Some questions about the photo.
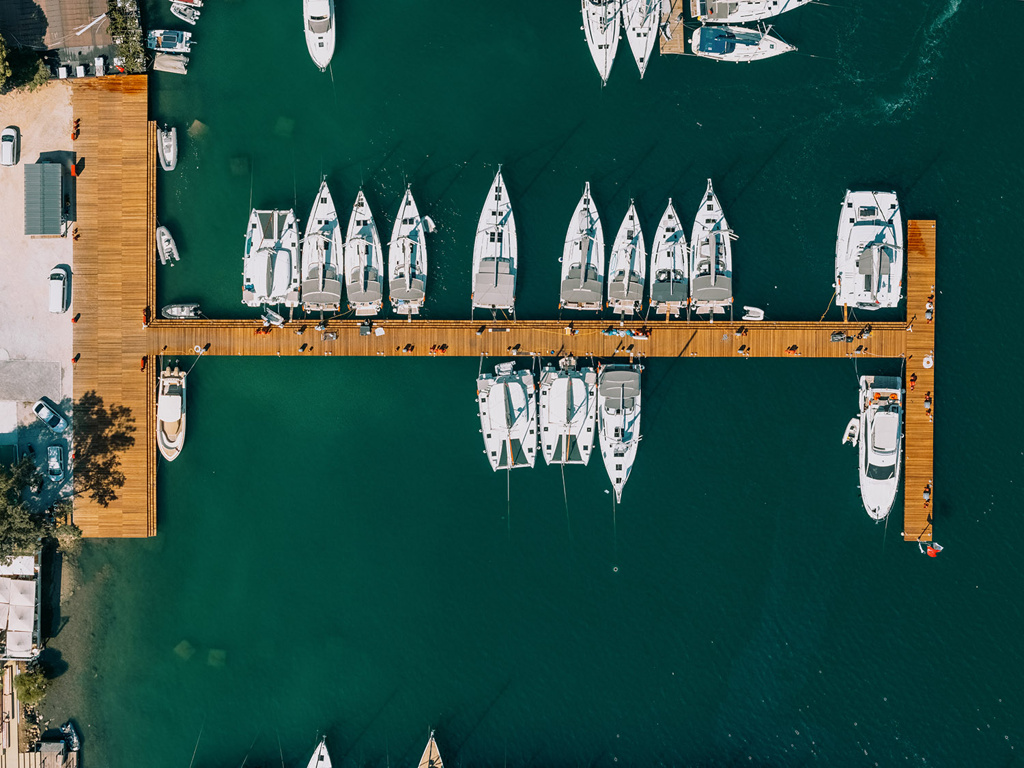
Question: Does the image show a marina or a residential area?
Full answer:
What you see here is a marina.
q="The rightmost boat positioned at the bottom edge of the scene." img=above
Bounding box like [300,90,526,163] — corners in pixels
[420,728,444,768]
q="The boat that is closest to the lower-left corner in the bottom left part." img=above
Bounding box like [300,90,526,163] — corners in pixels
[60,719,81,750]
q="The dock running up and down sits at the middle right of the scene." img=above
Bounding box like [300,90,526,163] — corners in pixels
[904,220,937,542]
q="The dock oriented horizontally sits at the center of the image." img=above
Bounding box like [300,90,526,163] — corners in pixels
[148,320,905,358]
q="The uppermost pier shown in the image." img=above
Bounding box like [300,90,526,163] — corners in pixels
[660,0,683,53]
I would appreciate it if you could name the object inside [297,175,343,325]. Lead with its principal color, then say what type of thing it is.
white boat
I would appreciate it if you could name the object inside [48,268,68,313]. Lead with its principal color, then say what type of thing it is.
white vehicle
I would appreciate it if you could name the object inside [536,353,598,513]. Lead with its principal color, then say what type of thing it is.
white boat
